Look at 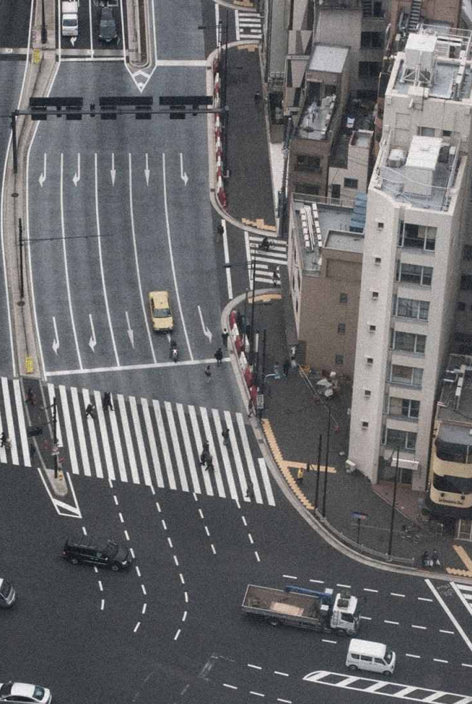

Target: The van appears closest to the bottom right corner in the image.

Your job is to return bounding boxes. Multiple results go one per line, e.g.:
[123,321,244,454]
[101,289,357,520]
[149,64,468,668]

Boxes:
[344,637,397,675]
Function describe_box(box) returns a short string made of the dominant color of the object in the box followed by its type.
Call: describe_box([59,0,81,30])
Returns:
white truck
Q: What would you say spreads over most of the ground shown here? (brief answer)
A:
paved ground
